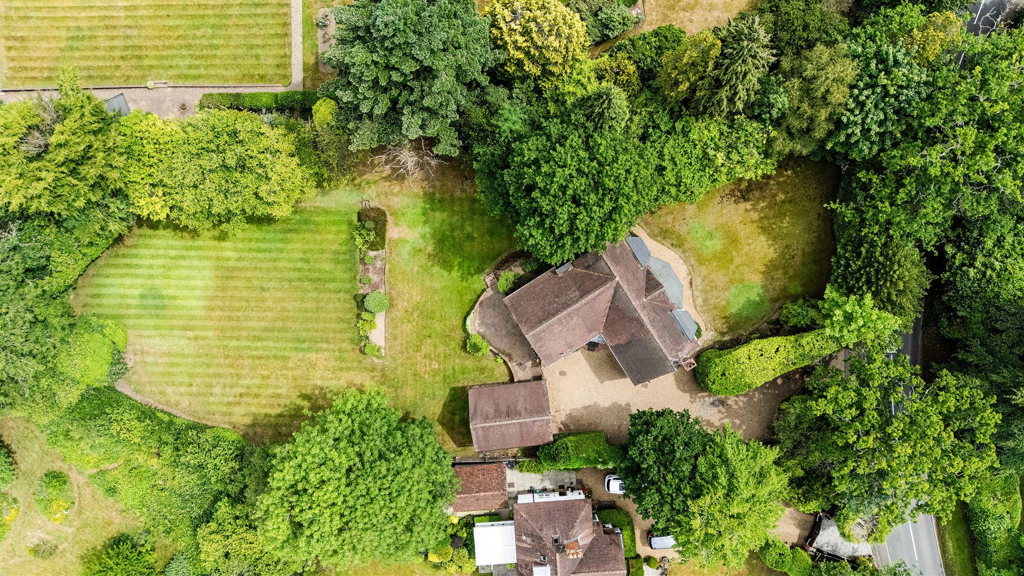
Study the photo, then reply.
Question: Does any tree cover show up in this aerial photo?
Yes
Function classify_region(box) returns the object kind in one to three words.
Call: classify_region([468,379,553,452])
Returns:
building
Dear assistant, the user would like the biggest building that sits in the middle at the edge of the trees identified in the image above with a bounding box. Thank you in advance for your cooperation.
[505,235,700,387]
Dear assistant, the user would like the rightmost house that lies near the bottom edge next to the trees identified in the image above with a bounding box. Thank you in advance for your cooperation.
[513,484,631,576]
